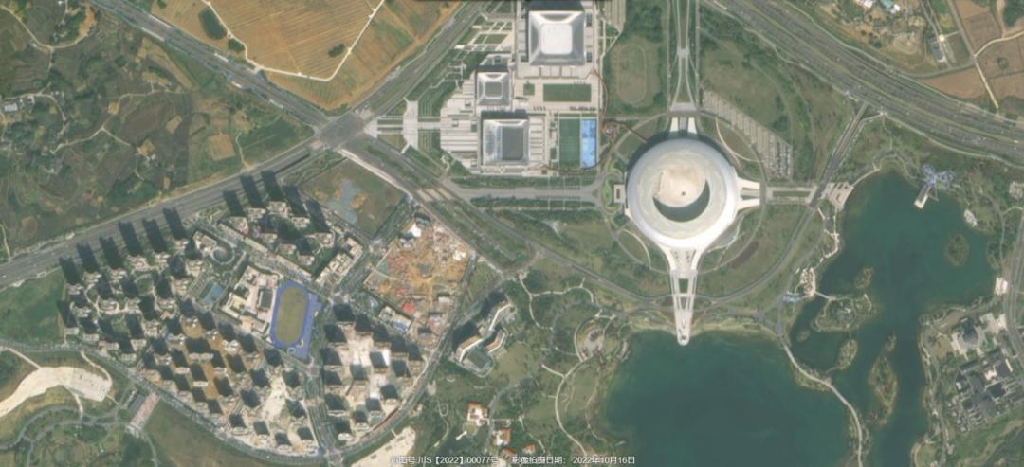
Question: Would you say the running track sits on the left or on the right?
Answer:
left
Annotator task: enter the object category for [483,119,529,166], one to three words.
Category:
building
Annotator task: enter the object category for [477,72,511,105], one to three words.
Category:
building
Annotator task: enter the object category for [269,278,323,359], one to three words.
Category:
running track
